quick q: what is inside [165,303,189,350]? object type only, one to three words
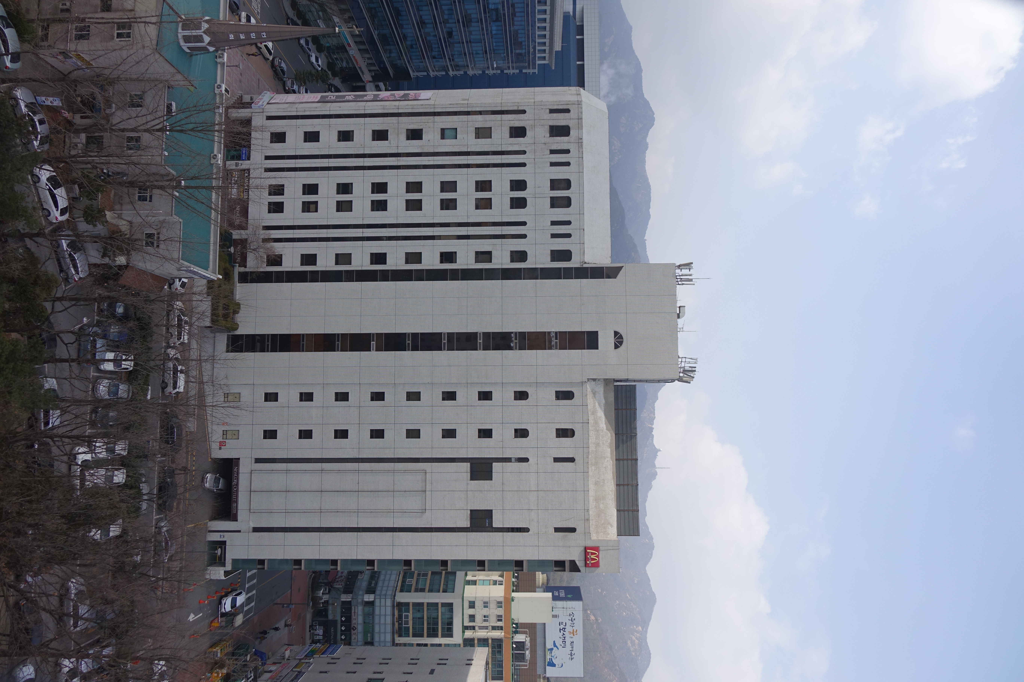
car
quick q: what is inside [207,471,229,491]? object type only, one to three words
car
